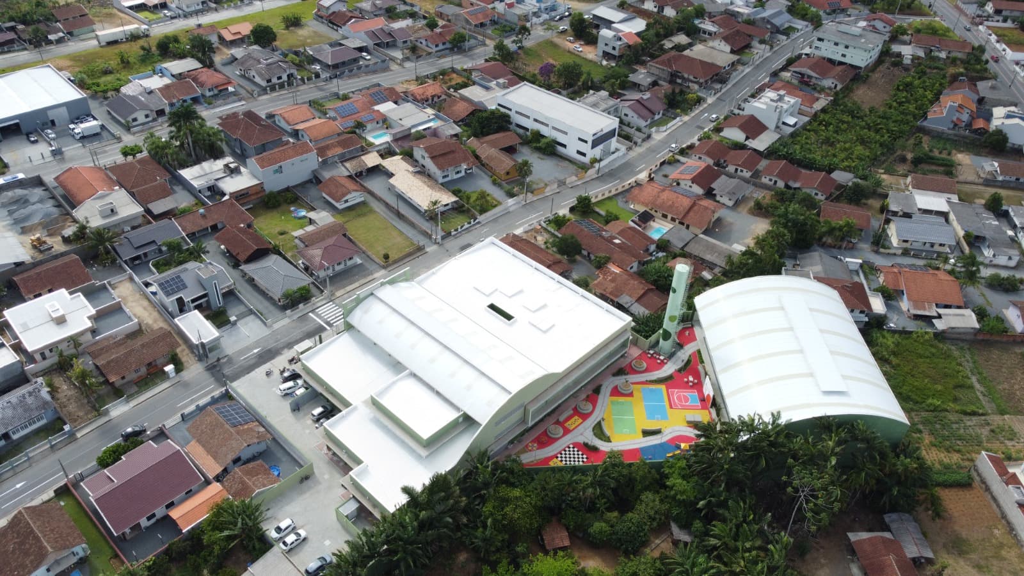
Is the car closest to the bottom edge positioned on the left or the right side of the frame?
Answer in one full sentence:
It is on the left.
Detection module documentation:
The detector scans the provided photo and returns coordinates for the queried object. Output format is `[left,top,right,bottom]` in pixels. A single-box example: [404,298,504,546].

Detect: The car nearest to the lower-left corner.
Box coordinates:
[119,421,148,439]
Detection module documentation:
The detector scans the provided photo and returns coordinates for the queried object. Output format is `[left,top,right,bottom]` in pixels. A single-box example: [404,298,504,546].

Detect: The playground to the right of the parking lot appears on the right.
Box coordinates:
[524,328,726,466]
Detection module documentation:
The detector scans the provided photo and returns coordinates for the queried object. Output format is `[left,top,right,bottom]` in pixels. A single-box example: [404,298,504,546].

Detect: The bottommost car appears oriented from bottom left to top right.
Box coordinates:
[302,549,334,575]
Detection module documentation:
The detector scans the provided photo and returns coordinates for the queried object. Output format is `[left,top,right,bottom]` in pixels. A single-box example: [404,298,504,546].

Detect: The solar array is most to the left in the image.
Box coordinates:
[157,274,187,294]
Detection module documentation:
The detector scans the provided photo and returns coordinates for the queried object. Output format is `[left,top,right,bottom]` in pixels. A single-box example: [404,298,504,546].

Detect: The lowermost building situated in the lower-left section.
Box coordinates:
[241,547,304,576]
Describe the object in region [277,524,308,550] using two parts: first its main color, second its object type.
white car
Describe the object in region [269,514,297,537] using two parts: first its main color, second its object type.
white car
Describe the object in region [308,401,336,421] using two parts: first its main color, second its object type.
gray car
